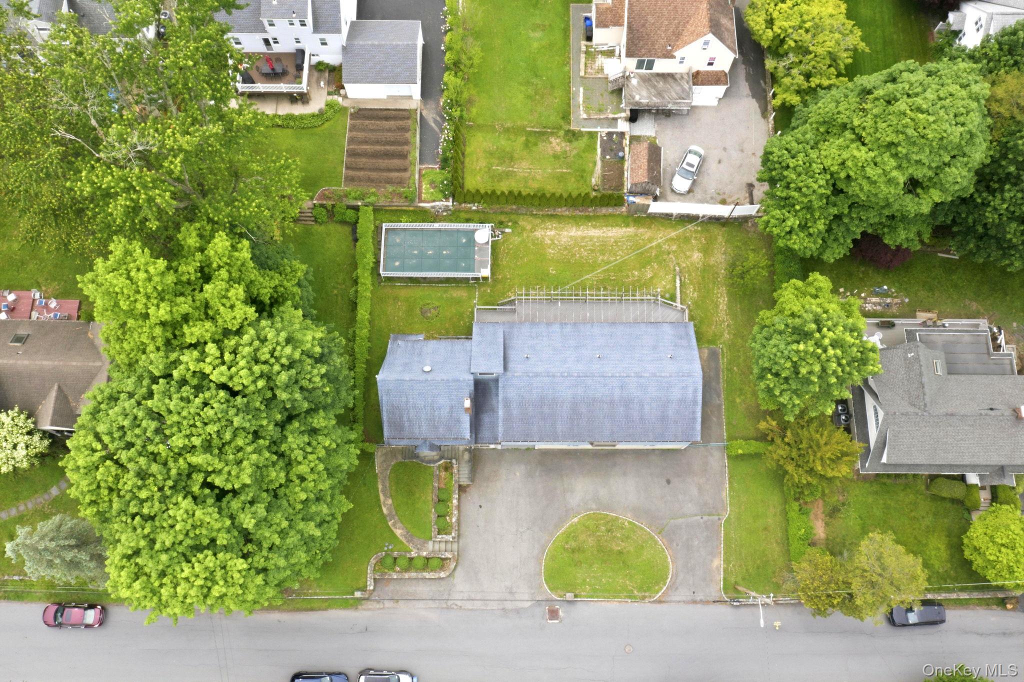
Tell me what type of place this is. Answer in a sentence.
This image shows a residential area.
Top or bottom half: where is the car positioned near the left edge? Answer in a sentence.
Seen from above, the car positioned near the left edge lies in the bottom half of the view.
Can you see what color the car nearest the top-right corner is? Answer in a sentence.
The car nearest the top-right corner looks white in the image.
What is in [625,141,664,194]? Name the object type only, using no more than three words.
shed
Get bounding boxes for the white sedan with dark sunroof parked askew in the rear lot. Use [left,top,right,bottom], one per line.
[672,145,703,196]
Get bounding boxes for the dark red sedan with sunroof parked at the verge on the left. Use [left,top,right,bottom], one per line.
[42,600,109,632]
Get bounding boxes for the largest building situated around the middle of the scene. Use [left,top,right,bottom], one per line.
[374,321,703,456]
